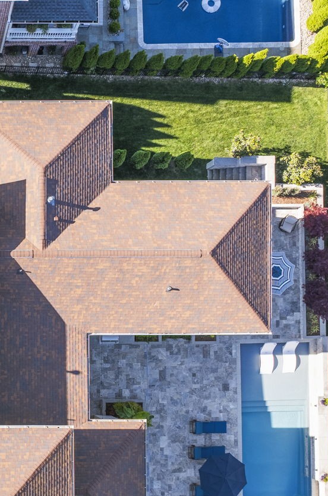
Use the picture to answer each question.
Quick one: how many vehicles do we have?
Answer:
none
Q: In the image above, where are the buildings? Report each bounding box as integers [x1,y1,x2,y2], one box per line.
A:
[0,0,113,55]
[0,98,275,496]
